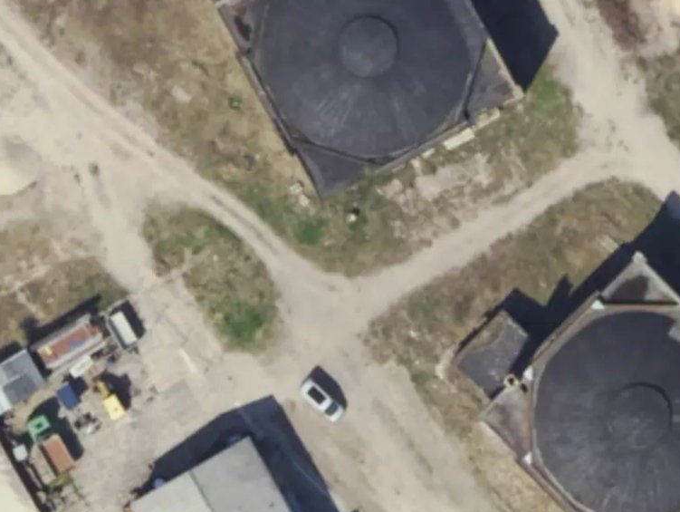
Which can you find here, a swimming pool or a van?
van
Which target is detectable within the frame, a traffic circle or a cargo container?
cargo container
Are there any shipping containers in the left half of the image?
Yes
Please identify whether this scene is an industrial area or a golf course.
industrial area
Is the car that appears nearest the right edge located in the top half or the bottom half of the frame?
bottom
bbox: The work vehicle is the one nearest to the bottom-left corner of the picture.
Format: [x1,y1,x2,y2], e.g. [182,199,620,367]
[95,377,126,420]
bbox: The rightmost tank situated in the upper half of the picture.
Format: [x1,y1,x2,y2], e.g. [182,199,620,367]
[217,0,516,201]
